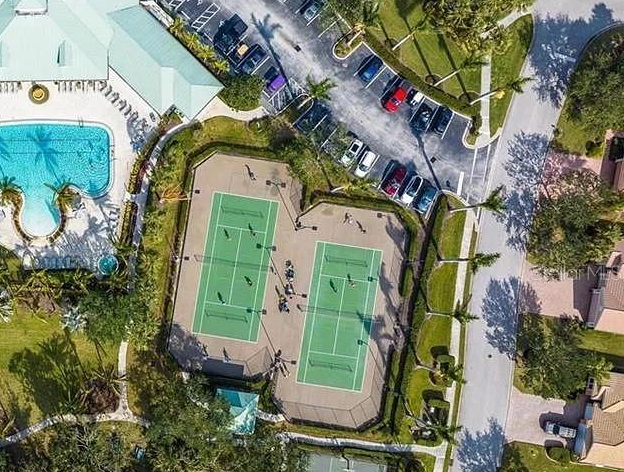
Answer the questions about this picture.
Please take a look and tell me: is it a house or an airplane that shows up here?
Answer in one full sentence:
Visible in the photo is a house.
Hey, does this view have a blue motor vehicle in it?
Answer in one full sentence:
Yes, I can see a blue motor vehicle in this picture.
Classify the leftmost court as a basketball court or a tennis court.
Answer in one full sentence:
From above, the leftmost court can be identified as a tennis court.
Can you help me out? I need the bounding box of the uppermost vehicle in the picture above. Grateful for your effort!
[300,0,323,22]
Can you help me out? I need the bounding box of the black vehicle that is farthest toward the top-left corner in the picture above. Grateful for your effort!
[216,13,247,48]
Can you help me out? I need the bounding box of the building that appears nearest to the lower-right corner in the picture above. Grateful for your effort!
[571,372,624,468]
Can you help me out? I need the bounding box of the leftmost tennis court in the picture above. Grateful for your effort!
[168,153,302,380]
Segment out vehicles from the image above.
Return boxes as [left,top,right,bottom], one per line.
[408,91,426,108]
[381,83,406,114]
[241,47,266,75]
[384,166,408,194]
[353,149,378,177]
[399,174,424,202]
[300,0,323,22]
[265,72,288,97]
[542,420,578,438]
[235,39,251,58]
[356,58,382,84]
[216,13,247,48]
[410,103,435,132]
[339,138,365,166]
[430,107,454,135]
